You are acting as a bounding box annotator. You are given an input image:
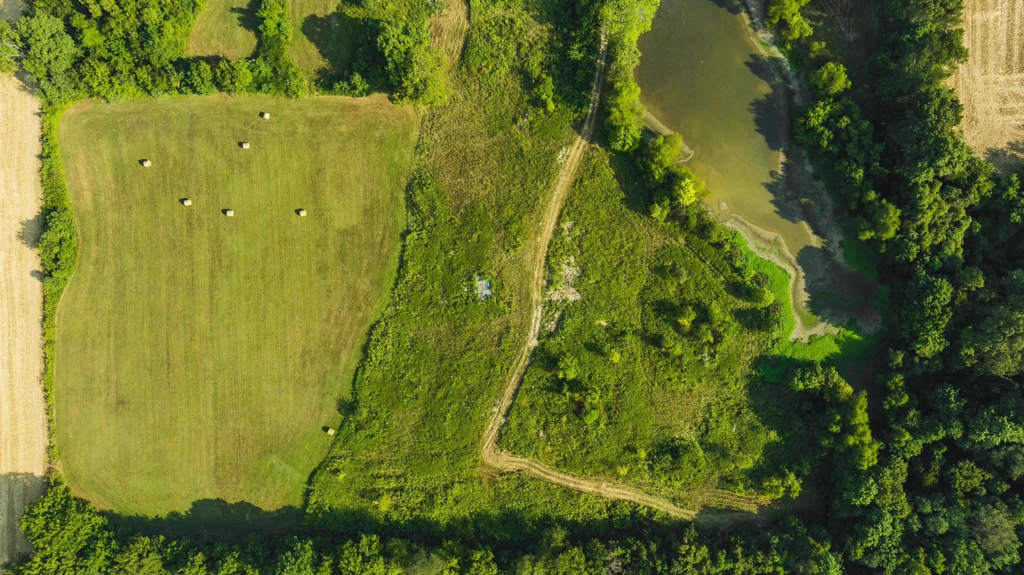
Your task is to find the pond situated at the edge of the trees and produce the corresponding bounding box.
[635,0,821,289]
